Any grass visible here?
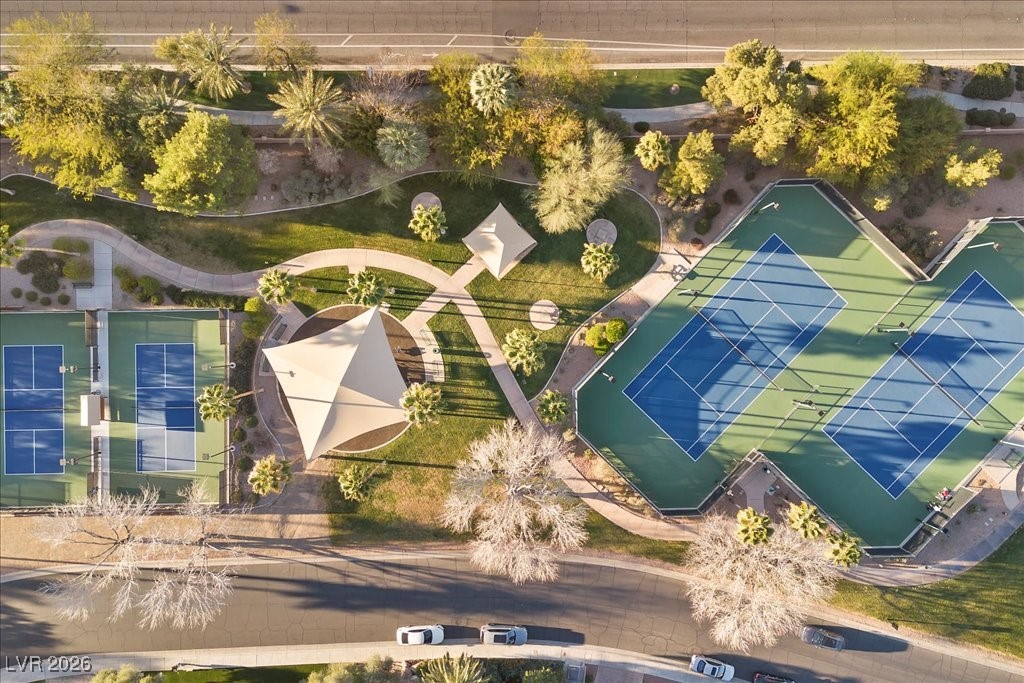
Yes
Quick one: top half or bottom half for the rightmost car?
bottom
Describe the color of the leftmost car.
white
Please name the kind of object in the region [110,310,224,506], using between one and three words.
sports court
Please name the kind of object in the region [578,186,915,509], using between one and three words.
tennis court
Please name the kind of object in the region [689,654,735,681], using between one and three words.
car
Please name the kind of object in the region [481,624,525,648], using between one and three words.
car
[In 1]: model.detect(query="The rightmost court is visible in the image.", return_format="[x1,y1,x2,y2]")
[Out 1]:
[758,222,1024,547]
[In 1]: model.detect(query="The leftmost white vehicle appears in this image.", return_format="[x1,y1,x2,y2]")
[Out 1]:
[398,625,442,649]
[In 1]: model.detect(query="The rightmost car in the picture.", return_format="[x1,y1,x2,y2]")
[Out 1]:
[801,624,846,652]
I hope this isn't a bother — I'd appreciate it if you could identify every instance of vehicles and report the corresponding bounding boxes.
[689,654,735,681]
[754,669,800,683]
[481,624,525,648]
[801,624,846,652]
[398,625,442,649]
